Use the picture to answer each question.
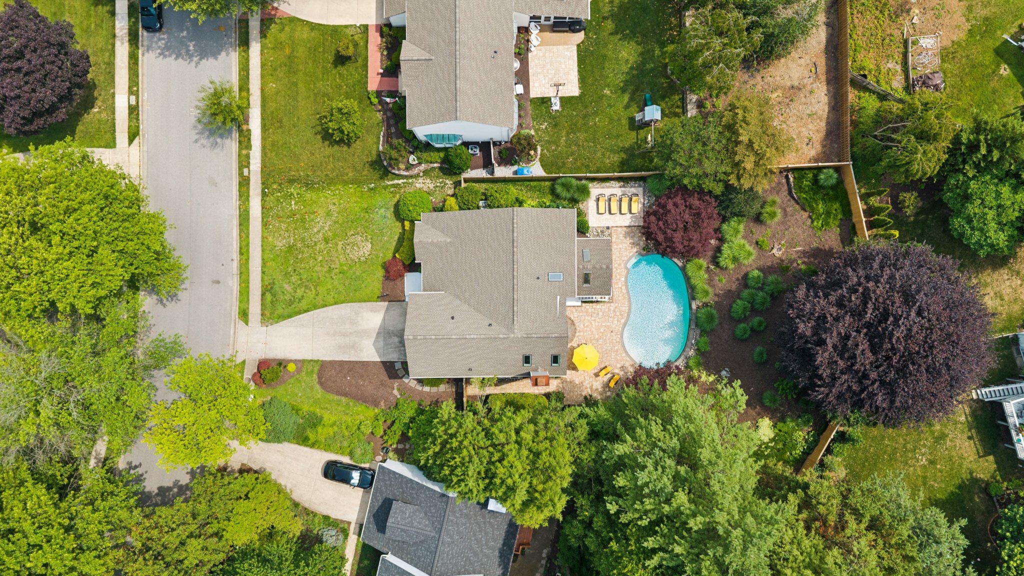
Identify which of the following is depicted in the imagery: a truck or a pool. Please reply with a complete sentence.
Visible in the photo is a pool.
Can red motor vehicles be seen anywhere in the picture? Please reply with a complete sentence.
No, no red motor vehicle can be seen from above.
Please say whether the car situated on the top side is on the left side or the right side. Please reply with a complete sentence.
The car situated on the top side appears in the left half of the scene.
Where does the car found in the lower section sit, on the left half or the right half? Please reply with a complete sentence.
You can find the car found in the lower section on the left side of the picture.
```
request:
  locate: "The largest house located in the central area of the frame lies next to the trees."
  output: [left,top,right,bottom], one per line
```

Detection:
[405,208,613,387]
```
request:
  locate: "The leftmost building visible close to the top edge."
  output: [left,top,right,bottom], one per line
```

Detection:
[382,0,592,149]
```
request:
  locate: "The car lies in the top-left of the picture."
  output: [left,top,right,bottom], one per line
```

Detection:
[137,0,166,28]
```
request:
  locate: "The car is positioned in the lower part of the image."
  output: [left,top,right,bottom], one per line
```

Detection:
[321,456,376,488]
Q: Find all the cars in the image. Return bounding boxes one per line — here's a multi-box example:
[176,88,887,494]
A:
[321,456,376,488]
[137,0,166,28]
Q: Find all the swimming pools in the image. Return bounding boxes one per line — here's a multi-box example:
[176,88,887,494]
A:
[619,249,696,372]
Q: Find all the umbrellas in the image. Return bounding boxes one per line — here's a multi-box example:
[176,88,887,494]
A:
[572,344,599,371]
